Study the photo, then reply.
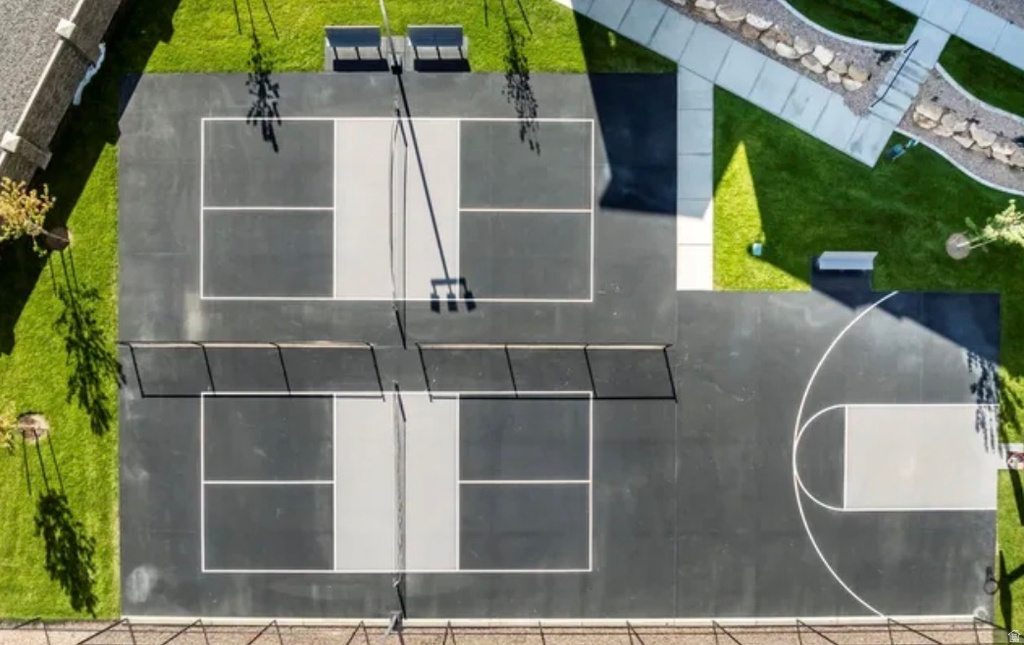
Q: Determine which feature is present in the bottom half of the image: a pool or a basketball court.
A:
basketball court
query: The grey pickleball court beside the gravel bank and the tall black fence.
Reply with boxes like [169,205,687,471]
[201,392,592,572]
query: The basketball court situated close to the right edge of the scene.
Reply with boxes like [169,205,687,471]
[677,293,999,617]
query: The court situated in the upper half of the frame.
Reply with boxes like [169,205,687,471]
[200,118,594,302]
